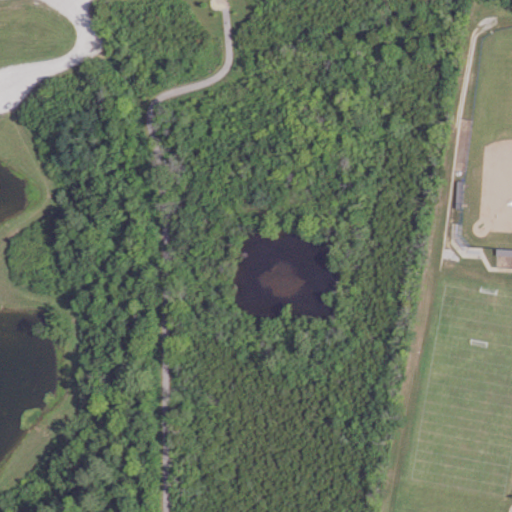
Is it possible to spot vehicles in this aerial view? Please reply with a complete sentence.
No, I find no vehicle anywhere in the image.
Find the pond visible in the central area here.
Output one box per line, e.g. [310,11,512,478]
[232,231,338,320]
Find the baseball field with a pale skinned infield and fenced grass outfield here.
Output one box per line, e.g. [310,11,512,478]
[462,27,512,246]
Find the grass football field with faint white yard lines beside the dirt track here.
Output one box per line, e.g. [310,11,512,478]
[406,278,512,502]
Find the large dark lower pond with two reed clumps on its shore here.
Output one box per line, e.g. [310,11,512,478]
[0,310,56,474]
